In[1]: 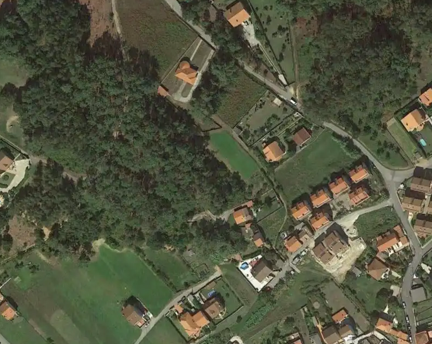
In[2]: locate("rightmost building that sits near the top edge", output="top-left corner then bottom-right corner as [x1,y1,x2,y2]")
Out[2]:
[223,1,250,27]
